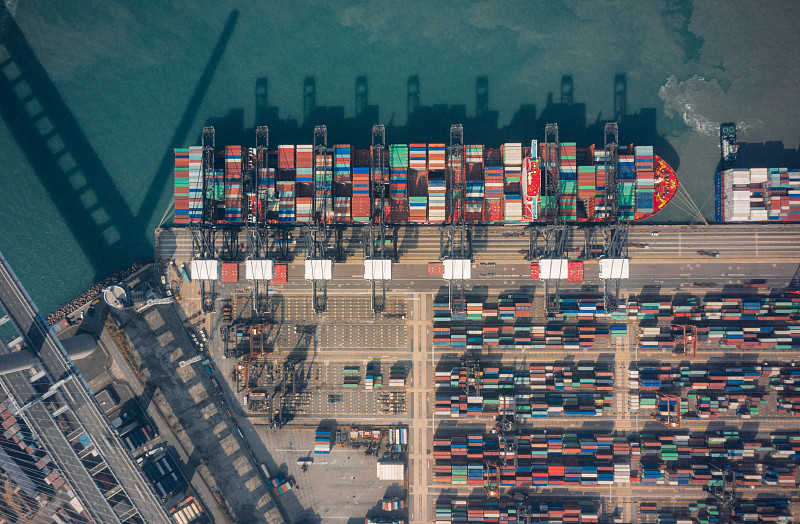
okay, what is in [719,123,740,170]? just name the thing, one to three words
boat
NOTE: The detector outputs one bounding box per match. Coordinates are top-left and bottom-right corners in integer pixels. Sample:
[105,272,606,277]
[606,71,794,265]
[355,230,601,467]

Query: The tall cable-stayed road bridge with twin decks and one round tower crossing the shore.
[0,242,196,524]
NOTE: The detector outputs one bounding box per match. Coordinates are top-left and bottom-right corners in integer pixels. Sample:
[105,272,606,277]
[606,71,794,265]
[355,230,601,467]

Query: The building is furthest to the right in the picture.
[378,460,404,480]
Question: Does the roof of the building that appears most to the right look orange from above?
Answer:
No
